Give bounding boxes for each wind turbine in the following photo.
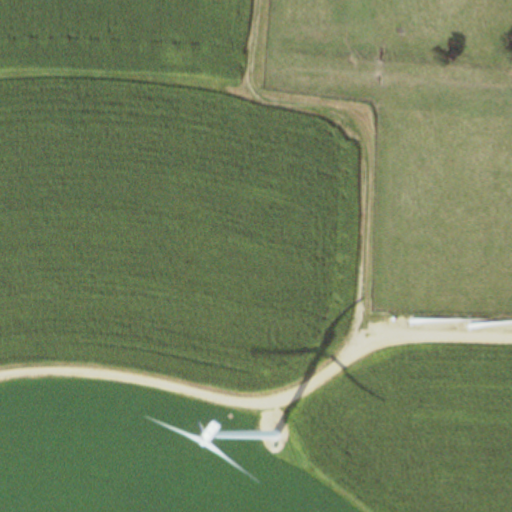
[148,417,282,485]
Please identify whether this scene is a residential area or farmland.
farmland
